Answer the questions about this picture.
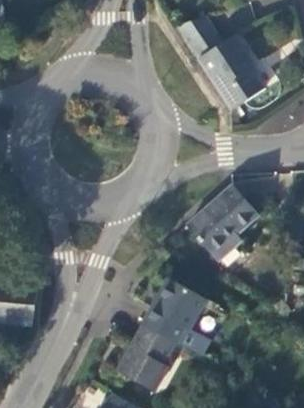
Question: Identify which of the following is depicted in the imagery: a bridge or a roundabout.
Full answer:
There is a roundabout in the scene.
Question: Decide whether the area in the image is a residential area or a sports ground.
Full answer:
The area seen from above is a residential area.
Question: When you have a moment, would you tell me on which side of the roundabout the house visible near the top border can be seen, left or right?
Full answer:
Compared with the roundabout, the house visible near the top border is located further to the right.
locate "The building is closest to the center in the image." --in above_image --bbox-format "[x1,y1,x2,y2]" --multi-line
[186,182,267,268]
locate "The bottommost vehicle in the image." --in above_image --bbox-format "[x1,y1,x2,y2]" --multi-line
[76,319,92,342]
